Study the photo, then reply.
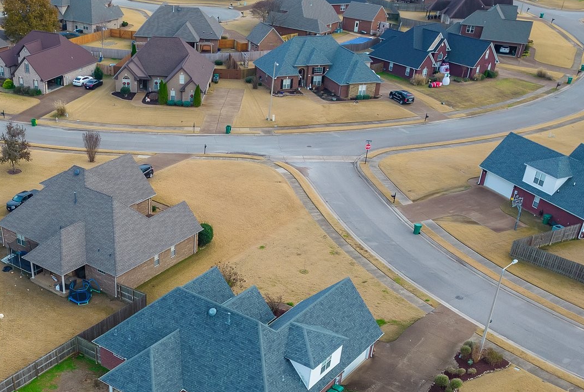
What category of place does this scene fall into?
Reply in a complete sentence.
The picture captures a residential area.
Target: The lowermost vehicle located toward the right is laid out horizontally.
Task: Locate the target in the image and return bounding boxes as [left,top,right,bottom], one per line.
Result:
[387,89,417,104]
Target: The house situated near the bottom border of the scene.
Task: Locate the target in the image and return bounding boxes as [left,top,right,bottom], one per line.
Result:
[92,244,384,392]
